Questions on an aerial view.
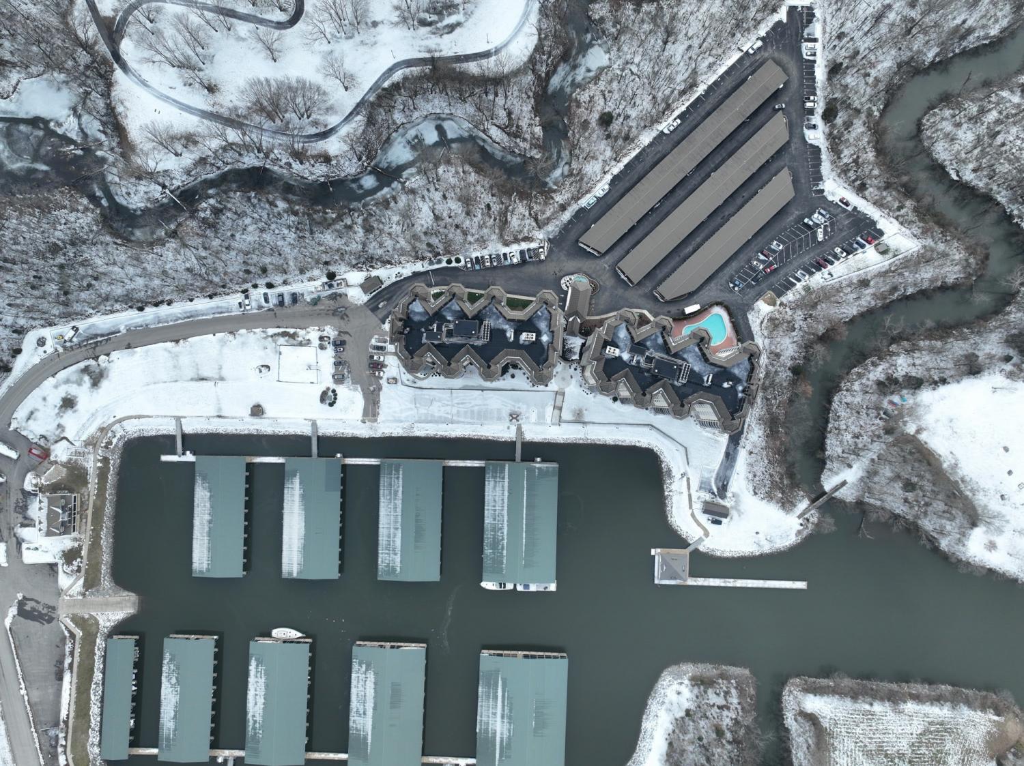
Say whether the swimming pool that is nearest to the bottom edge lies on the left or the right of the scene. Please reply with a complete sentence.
The swimming pool that is nearest to the bottom edge sits on the right side.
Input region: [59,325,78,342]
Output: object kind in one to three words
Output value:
vehicle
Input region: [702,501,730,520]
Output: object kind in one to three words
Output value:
building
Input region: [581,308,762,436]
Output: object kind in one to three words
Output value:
building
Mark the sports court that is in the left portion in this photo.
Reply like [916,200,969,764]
[276,345,318,383]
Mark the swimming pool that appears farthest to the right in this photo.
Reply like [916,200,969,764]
[671,305,738,354]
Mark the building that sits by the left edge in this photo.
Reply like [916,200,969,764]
[39,494,81,537]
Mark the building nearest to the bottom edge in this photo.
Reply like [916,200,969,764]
[654,548,689,585]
